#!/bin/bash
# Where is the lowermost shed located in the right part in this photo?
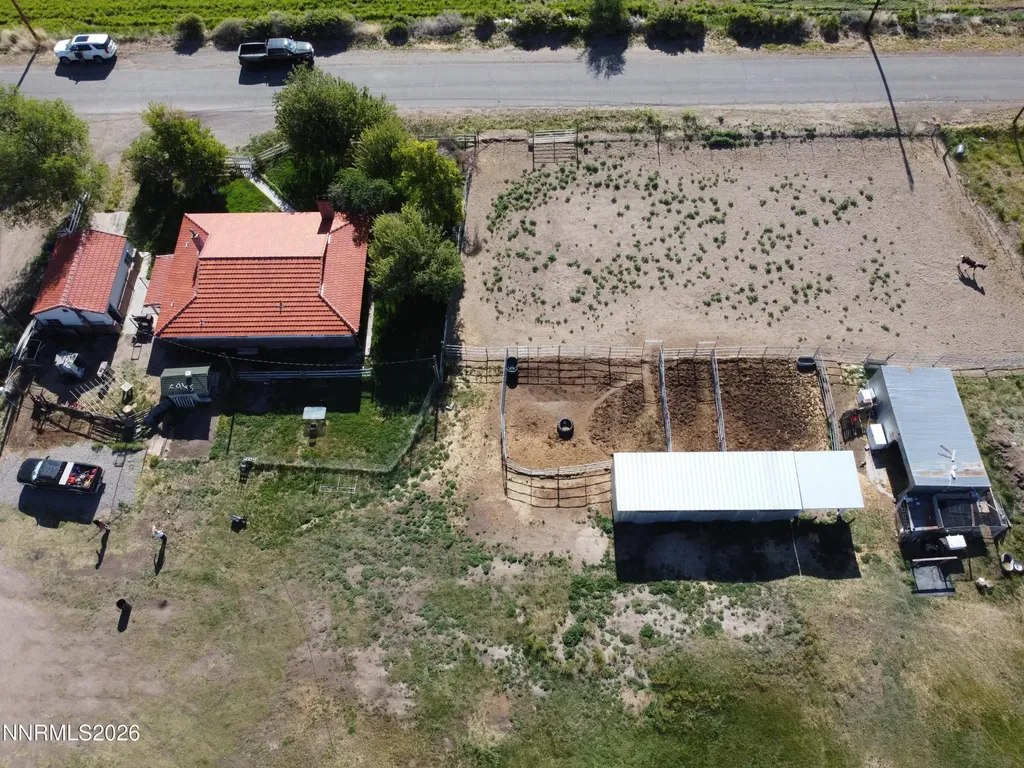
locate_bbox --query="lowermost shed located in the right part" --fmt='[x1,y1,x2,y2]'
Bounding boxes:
[608,450,863,523]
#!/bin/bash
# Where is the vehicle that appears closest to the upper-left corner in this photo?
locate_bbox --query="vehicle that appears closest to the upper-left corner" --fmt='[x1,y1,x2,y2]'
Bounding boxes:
[49,31,115,63]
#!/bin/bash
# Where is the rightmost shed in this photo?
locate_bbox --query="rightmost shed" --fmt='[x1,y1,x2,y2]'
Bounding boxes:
[871,367,987,501]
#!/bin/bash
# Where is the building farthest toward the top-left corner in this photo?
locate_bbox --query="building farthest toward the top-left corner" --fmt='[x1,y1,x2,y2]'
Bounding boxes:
[27,227,135,338]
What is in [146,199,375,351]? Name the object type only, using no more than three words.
house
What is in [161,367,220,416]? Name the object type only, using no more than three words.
shed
